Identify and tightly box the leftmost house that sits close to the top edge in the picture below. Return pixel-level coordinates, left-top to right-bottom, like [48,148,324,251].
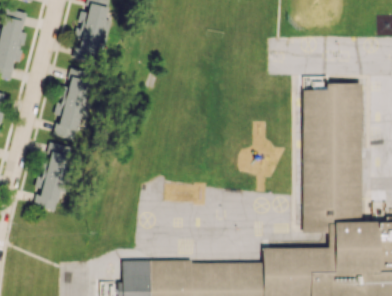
[0,10,28,81]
